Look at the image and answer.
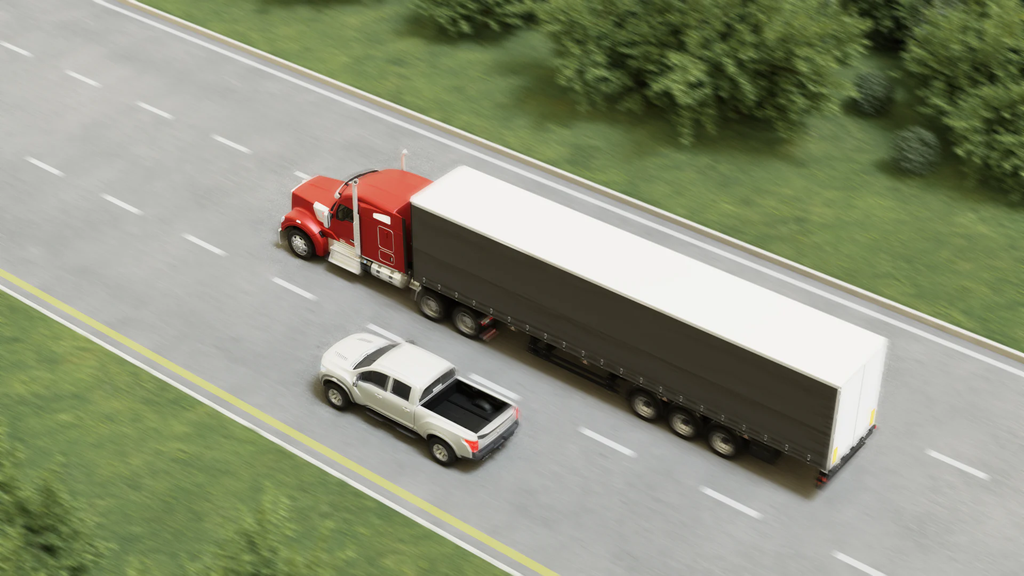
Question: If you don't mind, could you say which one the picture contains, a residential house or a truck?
truck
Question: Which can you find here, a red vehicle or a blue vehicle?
red vehicle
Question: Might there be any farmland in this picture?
No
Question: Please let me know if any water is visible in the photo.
No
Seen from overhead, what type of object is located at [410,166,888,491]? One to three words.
trailer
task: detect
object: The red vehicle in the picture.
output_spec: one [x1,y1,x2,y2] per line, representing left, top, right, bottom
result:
[279,147,499,342]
